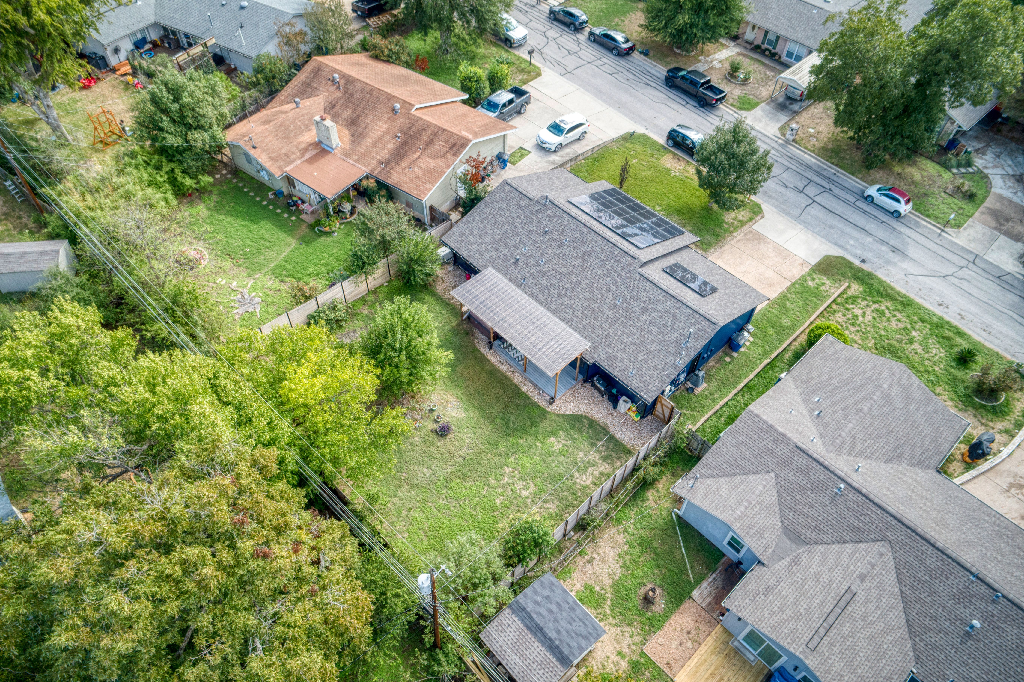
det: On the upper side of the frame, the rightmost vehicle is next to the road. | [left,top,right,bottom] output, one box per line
[864,183,922,220]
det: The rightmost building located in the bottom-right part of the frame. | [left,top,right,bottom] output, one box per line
[670,333,1024,682]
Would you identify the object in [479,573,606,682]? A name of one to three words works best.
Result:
shed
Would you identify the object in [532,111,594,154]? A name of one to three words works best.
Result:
car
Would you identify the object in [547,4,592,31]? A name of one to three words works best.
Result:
car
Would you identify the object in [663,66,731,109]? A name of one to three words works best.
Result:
truck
